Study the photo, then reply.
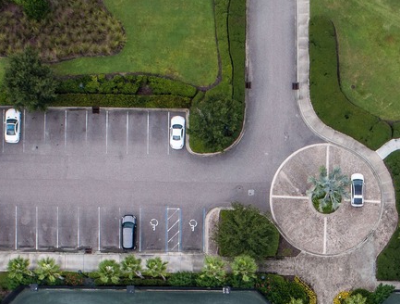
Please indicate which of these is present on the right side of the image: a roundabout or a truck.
roundabout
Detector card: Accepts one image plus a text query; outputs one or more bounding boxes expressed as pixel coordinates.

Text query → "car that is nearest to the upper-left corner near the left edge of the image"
[3,110,22,144]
